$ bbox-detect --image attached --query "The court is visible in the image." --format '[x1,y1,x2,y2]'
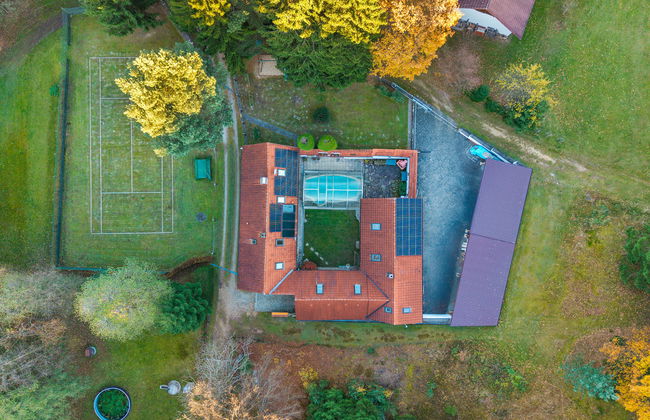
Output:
[86,52,177,239]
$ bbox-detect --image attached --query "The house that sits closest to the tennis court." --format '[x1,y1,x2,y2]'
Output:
[235,143,424,325]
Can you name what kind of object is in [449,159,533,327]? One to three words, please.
shed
